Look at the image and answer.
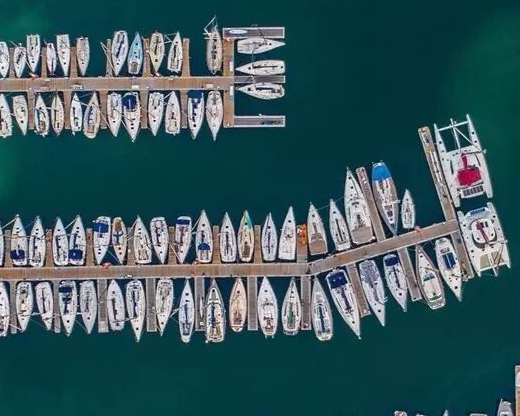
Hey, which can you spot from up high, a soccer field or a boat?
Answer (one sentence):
It is a boat that can be seen here.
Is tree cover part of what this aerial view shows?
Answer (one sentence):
No, no tree cover is visible.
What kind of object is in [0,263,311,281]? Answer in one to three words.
pier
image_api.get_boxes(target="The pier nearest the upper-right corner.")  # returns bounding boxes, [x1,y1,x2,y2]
[418,126,455,222]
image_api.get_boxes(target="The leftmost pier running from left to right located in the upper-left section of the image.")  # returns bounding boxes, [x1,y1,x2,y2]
[0,77,234,92]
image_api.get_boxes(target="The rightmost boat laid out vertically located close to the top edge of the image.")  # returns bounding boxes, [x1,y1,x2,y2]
[205,19,223,72]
